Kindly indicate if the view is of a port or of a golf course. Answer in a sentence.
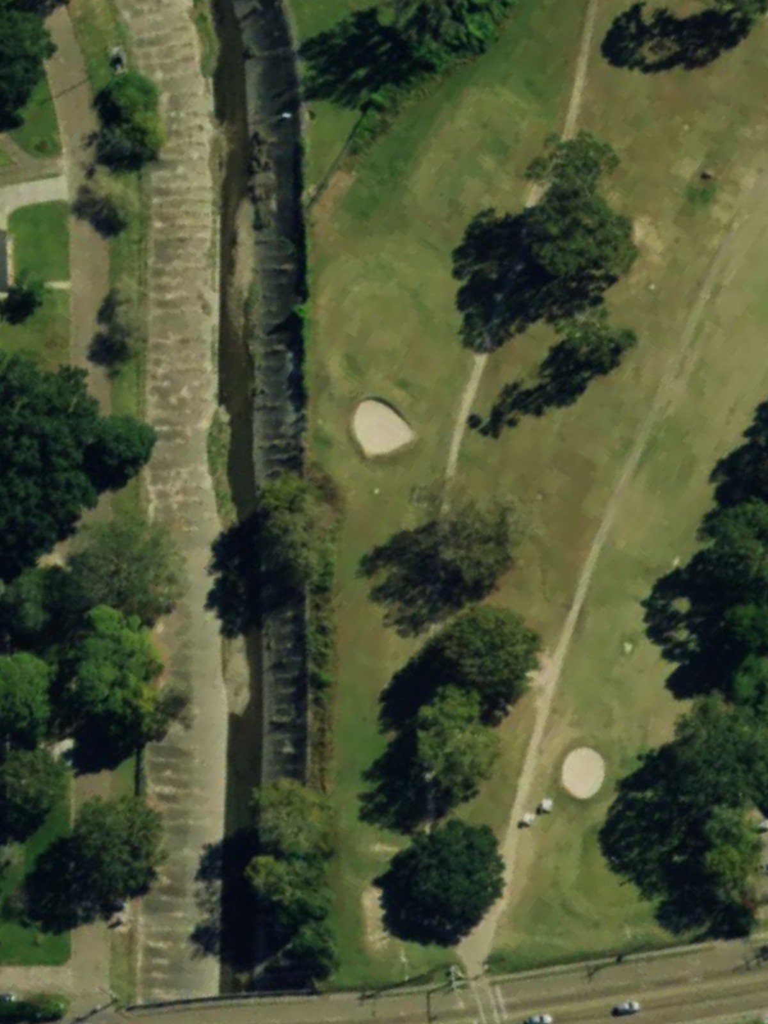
This looks like a golf course.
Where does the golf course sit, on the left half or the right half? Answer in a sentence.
The golf course is on the right side of the image.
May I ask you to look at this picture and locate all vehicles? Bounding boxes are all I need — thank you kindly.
[523,811,534,825]
[760,822,768,830]
[612,1001,643,1016]
[522,1013,553,1024]
[540,798,552,811]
